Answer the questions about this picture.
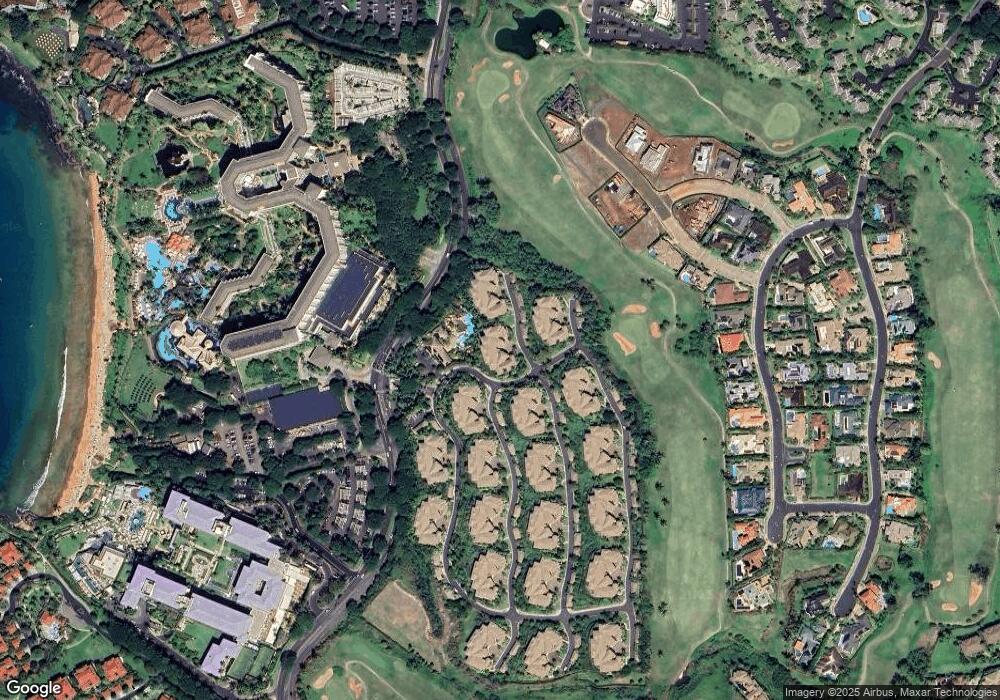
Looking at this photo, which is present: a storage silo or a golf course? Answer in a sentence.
I can see a golf course in this picture.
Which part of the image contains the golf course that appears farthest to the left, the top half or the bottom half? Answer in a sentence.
The golf course that appears farthest to the left is in the bottom half of the image.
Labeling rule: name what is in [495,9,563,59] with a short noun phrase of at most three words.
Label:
pond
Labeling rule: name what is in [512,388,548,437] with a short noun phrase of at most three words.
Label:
house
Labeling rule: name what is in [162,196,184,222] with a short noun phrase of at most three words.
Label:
swimming pool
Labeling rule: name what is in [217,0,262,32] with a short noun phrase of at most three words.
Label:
building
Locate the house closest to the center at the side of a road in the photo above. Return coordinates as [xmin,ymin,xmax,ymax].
[479,324,515,374]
